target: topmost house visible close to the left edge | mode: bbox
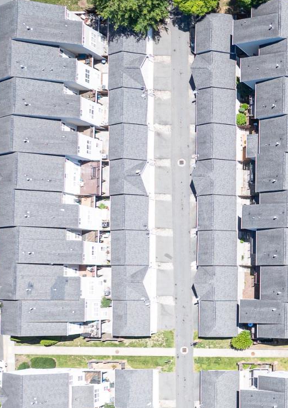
[0,0,106,55]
